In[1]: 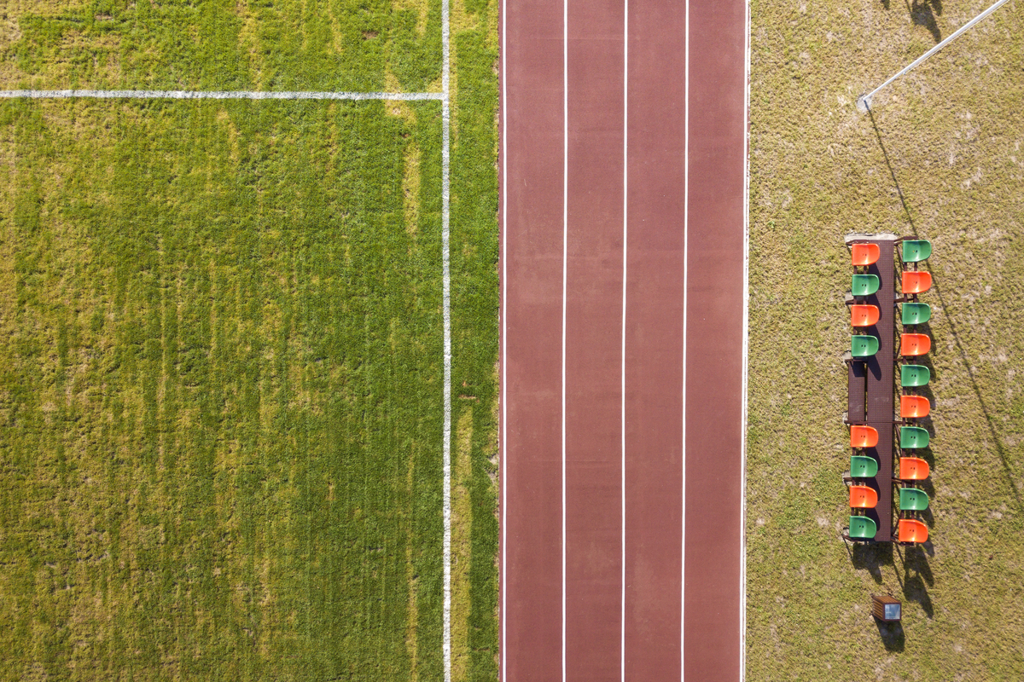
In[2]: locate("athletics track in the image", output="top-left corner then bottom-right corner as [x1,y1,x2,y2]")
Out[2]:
[499,0,750,682]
